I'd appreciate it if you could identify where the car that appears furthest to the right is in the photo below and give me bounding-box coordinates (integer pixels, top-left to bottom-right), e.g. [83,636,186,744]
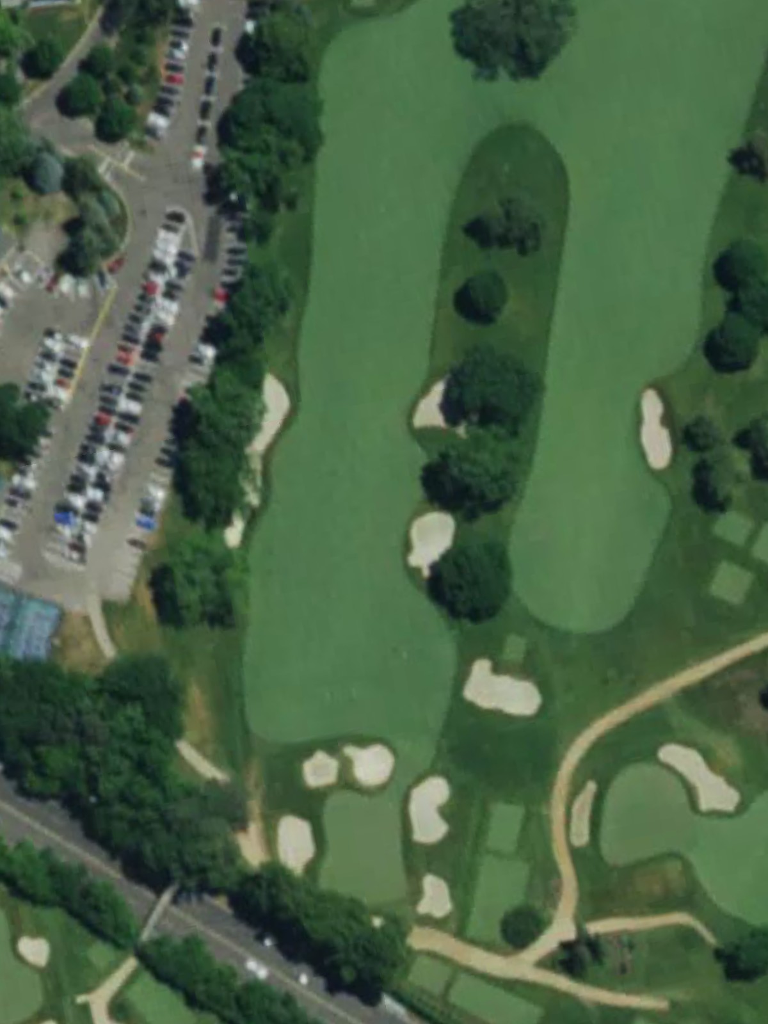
[294,971,312,985]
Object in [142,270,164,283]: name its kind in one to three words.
vehicle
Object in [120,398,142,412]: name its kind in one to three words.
car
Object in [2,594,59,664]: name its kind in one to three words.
tennis court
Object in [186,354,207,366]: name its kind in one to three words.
vehicle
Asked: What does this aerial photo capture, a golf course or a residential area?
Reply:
golf course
